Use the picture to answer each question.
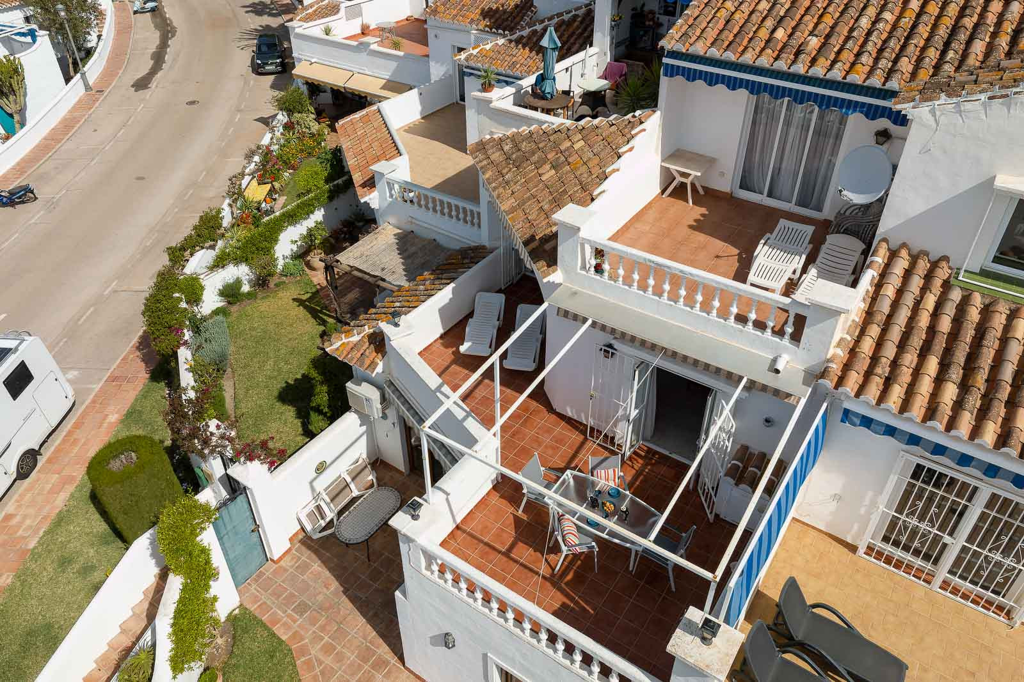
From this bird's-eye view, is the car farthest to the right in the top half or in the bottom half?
top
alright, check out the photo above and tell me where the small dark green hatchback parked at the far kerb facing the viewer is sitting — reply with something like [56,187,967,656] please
[246,22,284,69]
